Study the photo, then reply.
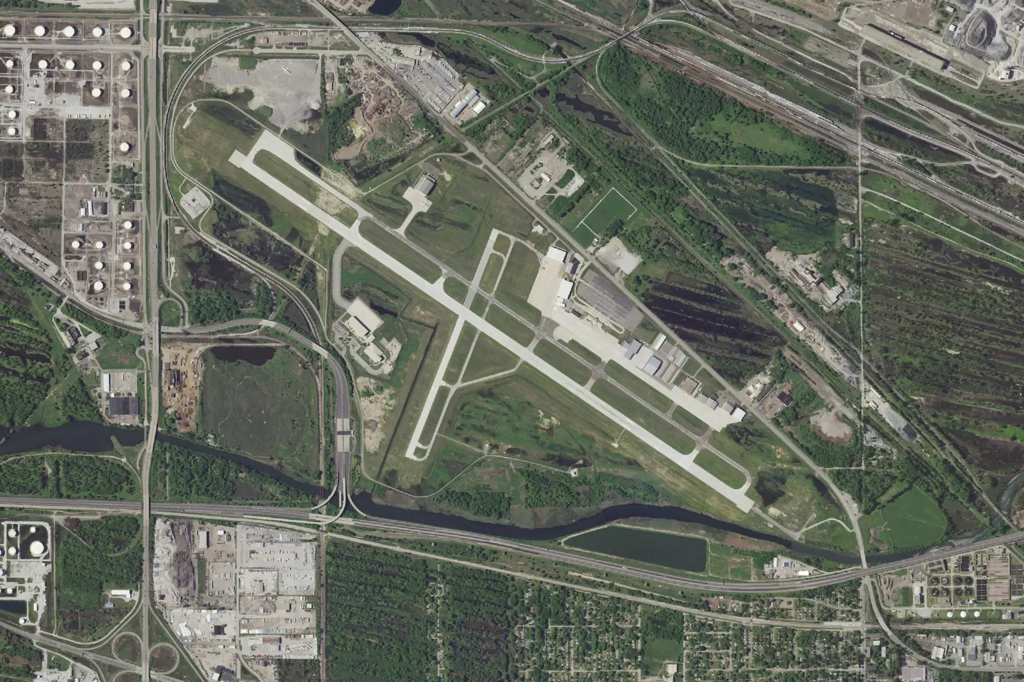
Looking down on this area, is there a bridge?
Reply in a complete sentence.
Yes, the picture does show a bridge.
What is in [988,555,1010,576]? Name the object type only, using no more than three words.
building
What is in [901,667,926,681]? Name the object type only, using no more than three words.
building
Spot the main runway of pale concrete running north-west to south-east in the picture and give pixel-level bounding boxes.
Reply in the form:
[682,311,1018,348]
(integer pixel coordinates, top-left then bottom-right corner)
[240,157,744,503]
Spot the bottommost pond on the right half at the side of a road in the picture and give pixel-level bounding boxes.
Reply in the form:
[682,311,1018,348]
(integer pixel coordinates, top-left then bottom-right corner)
[565,526,707,573]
